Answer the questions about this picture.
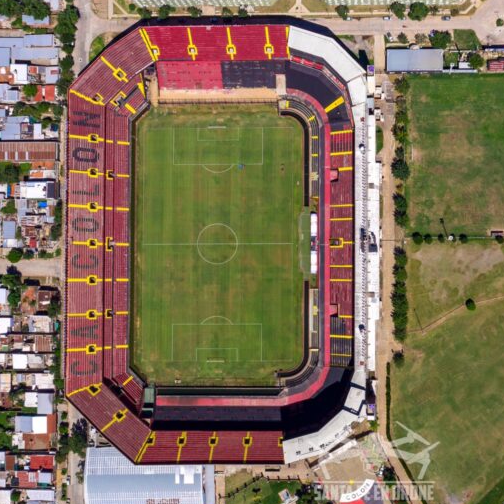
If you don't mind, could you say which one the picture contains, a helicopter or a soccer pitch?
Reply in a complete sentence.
I can see a soccer pitch in this picture.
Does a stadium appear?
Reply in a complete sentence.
Yes, looking at the shot, I can spot a stadium.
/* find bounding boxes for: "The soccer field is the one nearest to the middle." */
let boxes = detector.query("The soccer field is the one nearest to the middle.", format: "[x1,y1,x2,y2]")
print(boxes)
[135,104,311,386]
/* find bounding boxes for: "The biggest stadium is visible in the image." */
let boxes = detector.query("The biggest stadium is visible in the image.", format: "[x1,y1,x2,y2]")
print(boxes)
[63,24,368,465]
